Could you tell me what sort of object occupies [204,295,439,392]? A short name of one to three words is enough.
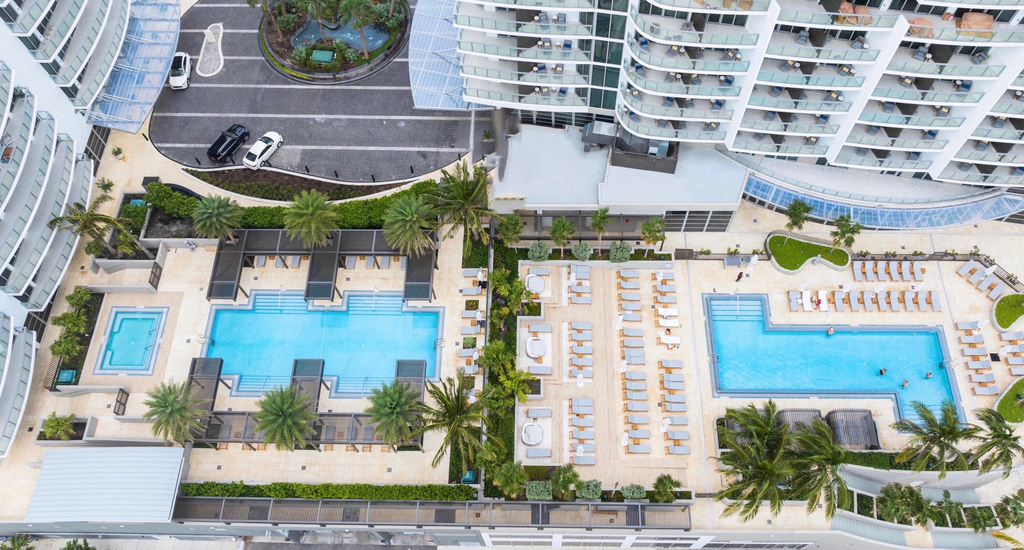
swimming pool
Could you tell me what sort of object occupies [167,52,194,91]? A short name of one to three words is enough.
car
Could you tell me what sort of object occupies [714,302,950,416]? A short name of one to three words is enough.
swimming pool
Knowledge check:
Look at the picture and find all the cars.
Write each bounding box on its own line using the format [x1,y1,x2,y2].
[167,52,194,91]
[207,126,246,162]
[238,132,281,170]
